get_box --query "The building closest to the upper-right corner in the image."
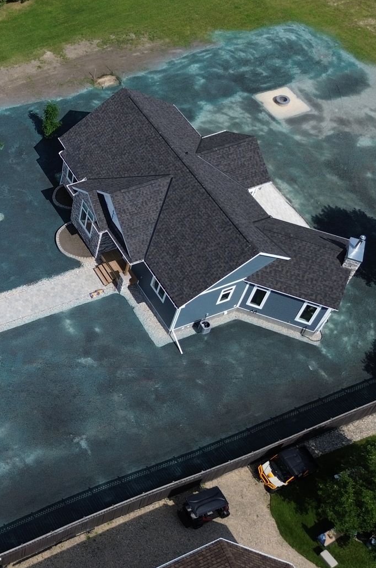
[59,85,368,356]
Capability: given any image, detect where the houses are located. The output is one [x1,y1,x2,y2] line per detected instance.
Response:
[59,85,368,356]
[164,543,282,568]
